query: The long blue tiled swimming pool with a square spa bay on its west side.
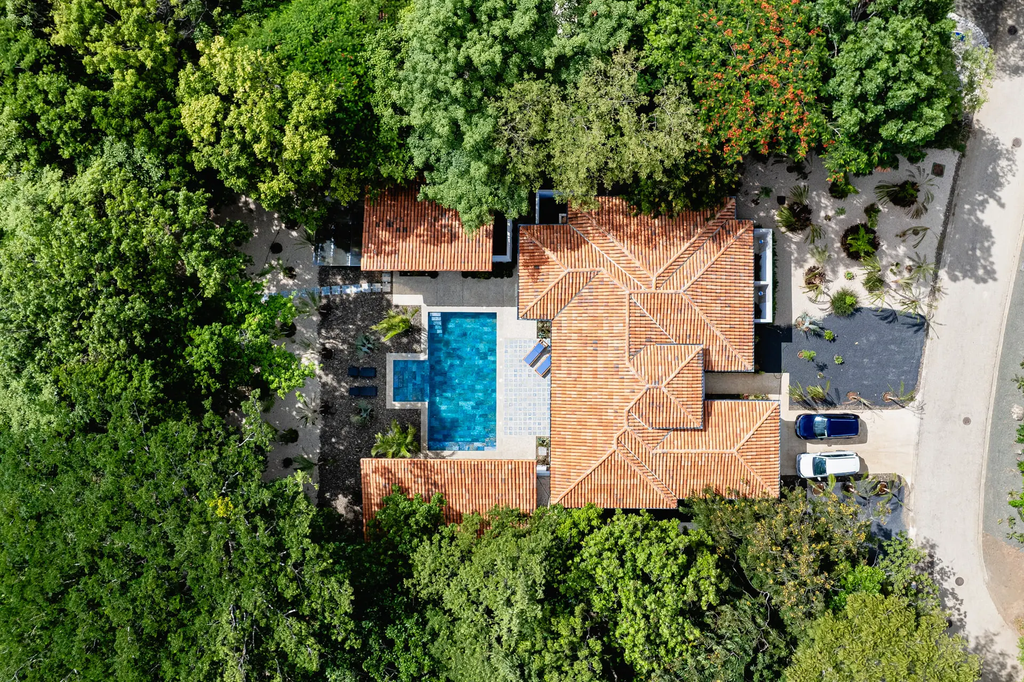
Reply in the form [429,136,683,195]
[393,312,497,451]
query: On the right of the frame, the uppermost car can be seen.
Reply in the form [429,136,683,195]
[793,412,860,442]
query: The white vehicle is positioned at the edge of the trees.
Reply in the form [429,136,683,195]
[794,450,860,480]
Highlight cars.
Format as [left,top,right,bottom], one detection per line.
[794,450,860,480]
[793,412,860,442]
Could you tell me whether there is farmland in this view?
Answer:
No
